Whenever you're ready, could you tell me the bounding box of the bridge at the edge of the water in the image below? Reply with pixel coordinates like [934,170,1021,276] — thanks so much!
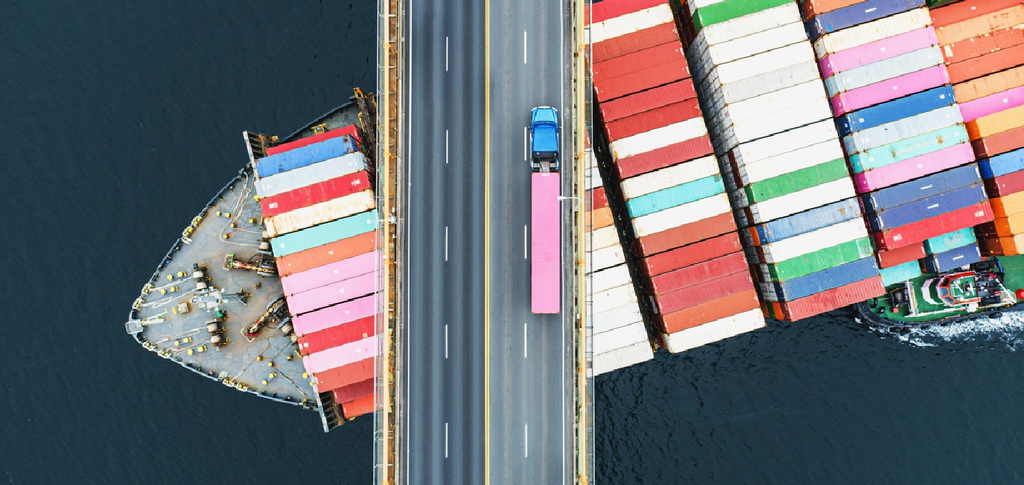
[374,0,594,485]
